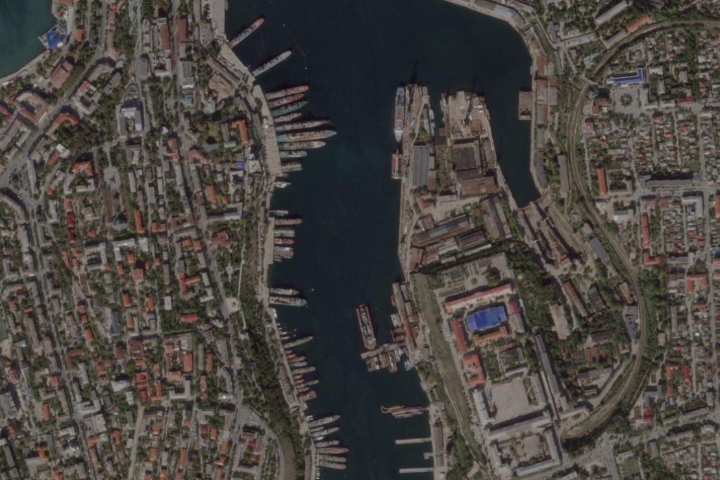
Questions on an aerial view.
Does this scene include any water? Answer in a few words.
Yes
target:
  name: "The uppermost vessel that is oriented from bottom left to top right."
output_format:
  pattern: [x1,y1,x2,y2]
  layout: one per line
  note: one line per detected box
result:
[227,20,263,48]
